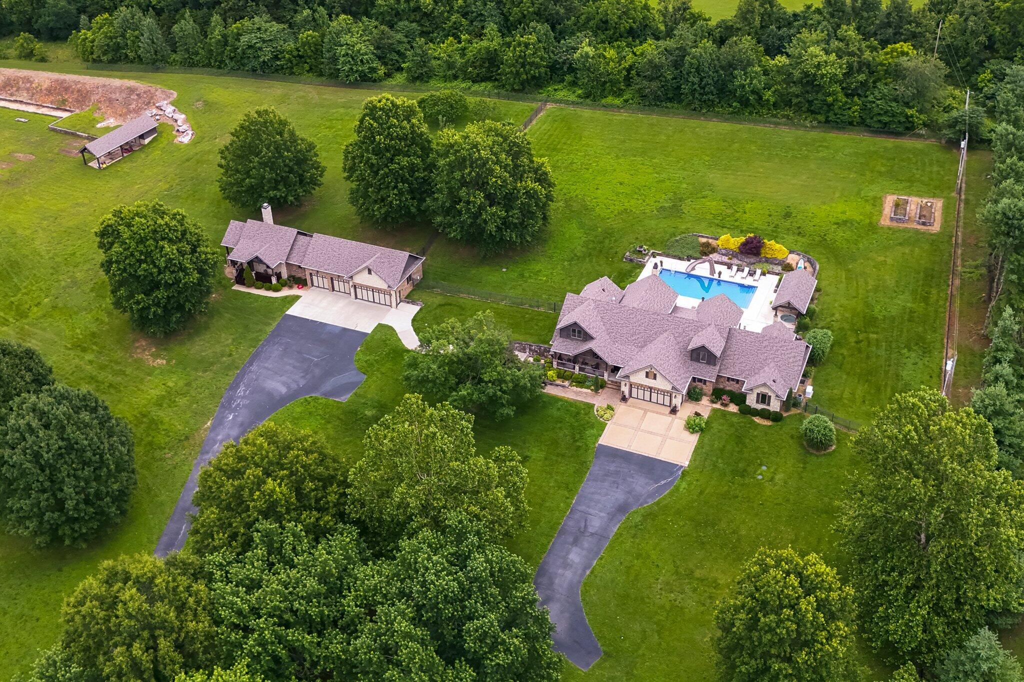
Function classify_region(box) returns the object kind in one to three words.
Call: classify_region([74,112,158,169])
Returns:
shed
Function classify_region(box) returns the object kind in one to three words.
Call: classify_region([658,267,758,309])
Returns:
swimming pool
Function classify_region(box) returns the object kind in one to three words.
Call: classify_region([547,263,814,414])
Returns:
house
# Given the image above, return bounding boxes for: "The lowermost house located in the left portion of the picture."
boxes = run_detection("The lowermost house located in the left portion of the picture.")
[220,198,426,308]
